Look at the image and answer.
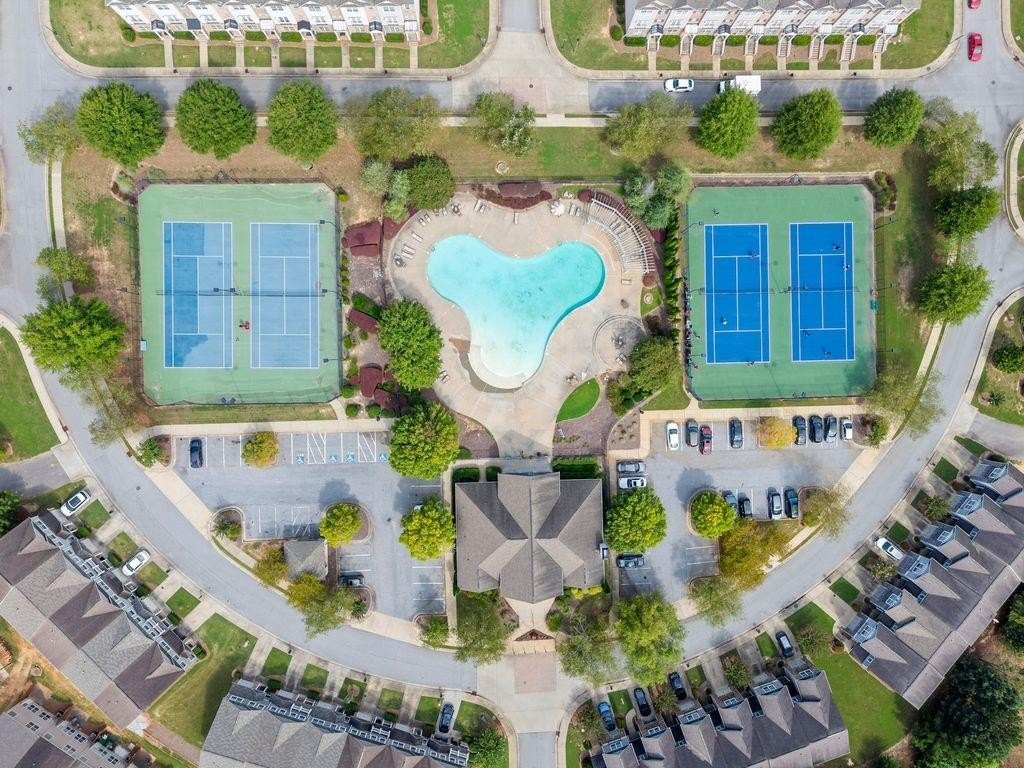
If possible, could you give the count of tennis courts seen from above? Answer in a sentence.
In total, 4 tennis courts can be seen.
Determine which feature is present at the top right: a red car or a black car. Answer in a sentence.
What appears at the top right is a red car.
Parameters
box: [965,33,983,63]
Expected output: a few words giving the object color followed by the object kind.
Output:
red car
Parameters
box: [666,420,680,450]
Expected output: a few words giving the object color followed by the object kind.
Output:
white car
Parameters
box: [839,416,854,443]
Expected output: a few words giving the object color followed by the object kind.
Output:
white car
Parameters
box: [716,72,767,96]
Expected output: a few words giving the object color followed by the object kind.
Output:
white truck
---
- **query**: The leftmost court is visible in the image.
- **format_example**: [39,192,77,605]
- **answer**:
[138,183,242,405]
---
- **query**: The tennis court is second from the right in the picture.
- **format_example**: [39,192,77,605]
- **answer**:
[686,185,781,403]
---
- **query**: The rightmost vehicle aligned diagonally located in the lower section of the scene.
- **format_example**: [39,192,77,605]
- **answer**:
[872,534,901,559]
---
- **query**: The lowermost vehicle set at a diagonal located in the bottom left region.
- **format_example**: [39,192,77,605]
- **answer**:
[123,548,151,574]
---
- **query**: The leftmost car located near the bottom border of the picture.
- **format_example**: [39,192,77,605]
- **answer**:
[438,702,454,732]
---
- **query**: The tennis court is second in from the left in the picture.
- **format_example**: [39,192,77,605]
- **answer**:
[242,183,341,404]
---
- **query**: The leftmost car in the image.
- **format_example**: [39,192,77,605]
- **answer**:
[62,489,91,515]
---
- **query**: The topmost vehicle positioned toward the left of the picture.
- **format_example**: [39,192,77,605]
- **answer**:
[189,437,204,467]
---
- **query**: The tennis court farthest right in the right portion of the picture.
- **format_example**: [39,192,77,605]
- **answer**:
[780,184,877,402]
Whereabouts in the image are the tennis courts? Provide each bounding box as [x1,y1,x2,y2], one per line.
[242,183,341,404]
[138,183,242,405]
[686,185,781,403]
[780,184,877,402]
